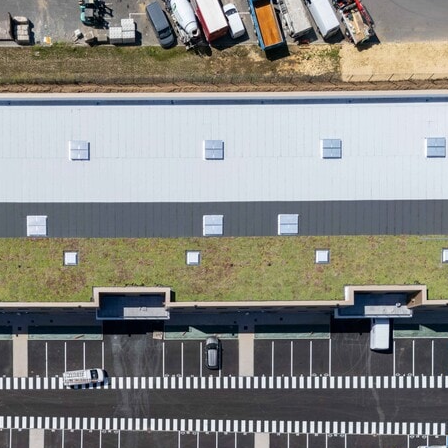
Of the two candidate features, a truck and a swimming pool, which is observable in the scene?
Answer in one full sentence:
I can see a truck in this picture.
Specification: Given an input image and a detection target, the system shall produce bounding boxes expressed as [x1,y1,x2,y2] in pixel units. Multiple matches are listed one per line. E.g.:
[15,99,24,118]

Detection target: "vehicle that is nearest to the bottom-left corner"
[63,366,105,385]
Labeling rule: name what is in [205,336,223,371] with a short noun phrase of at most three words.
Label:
car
